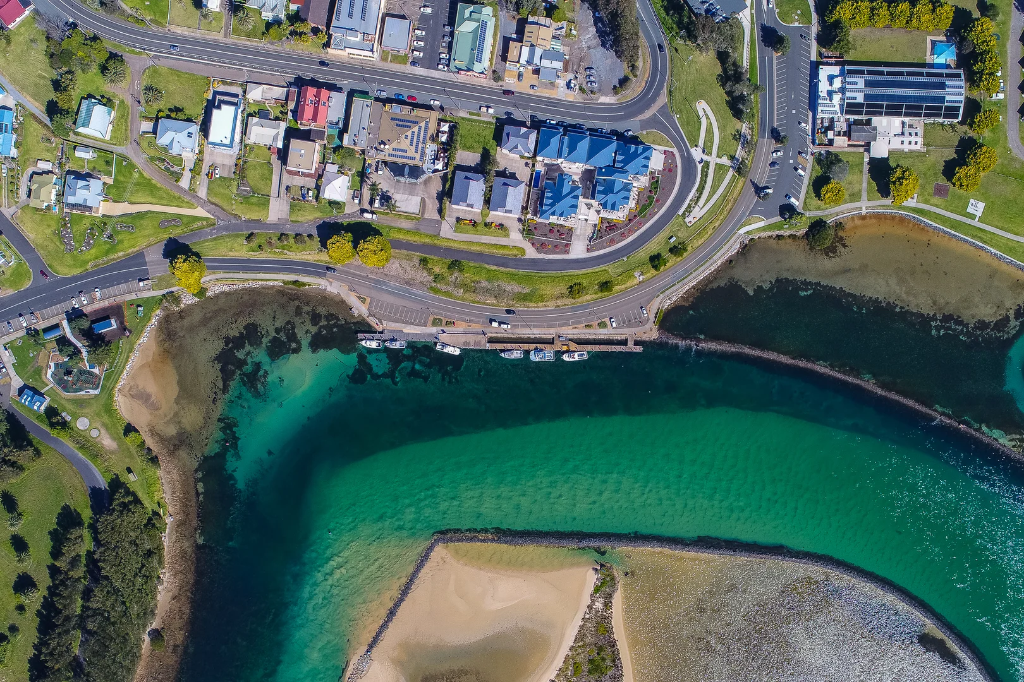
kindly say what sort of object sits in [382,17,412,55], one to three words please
building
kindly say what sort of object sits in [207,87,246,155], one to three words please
house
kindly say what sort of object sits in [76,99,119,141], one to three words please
house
